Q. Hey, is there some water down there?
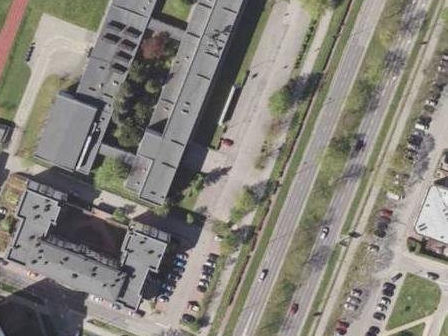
No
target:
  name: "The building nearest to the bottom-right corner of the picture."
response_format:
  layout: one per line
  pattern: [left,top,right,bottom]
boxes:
[411,181,448,247]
